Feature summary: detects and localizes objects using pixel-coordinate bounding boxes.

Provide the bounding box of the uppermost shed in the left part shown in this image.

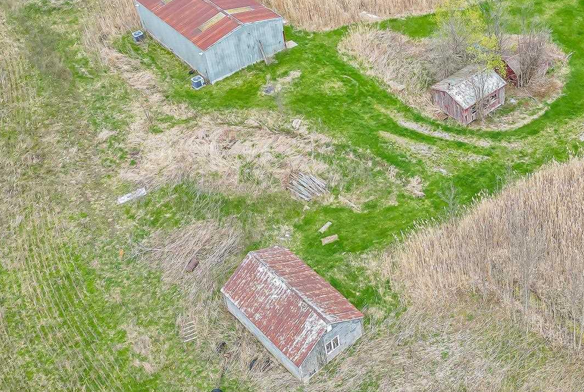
[132,0,286,84]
